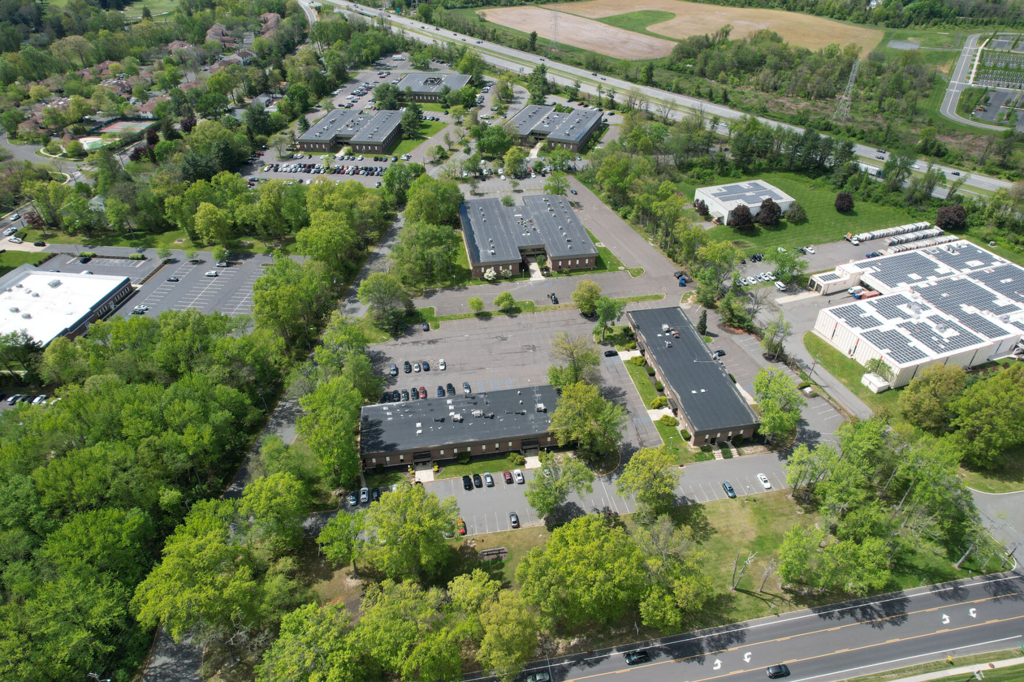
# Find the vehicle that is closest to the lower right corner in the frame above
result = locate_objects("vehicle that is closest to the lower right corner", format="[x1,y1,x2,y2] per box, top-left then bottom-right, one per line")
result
[764,663,792,679]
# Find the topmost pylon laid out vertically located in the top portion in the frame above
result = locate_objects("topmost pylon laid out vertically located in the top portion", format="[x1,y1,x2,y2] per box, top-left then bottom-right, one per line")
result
[545,1,564,51]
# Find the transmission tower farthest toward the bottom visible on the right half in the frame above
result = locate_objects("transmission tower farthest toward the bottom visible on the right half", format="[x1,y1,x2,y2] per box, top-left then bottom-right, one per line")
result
[829,53,865,120]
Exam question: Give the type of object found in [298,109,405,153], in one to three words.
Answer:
building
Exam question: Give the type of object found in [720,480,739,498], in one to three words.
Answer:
car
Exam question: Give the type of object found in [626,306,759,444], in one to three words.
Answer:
building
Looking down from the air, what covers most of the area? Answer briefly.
trees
